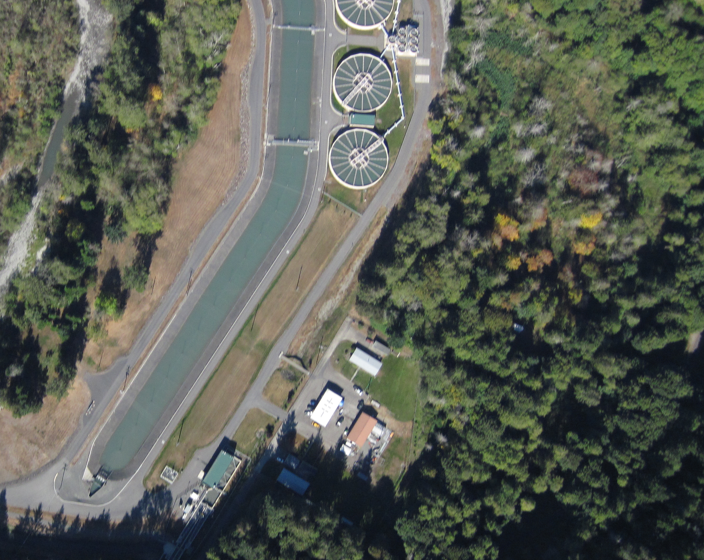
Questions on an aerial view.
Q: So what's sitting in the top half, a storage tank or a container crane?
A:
storage tank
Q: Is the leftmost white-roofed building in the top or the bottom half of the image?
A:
bottom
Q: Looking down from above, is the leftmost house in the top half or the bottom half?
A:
bottom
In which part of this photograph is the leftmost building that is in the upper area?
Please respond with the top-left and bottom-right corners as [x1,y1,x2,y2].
[349,114,375,127]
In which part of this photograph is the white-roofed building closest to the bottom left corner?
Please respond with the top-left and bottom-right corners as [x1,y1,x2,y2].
[310,389,343,427]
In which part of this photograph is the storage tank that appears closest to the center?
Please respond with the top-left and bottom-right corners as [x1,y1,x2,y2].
[329,129,388,188]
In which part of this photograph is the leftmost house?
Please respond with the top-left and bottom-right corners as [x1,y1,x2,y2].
[203,449,234,488]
